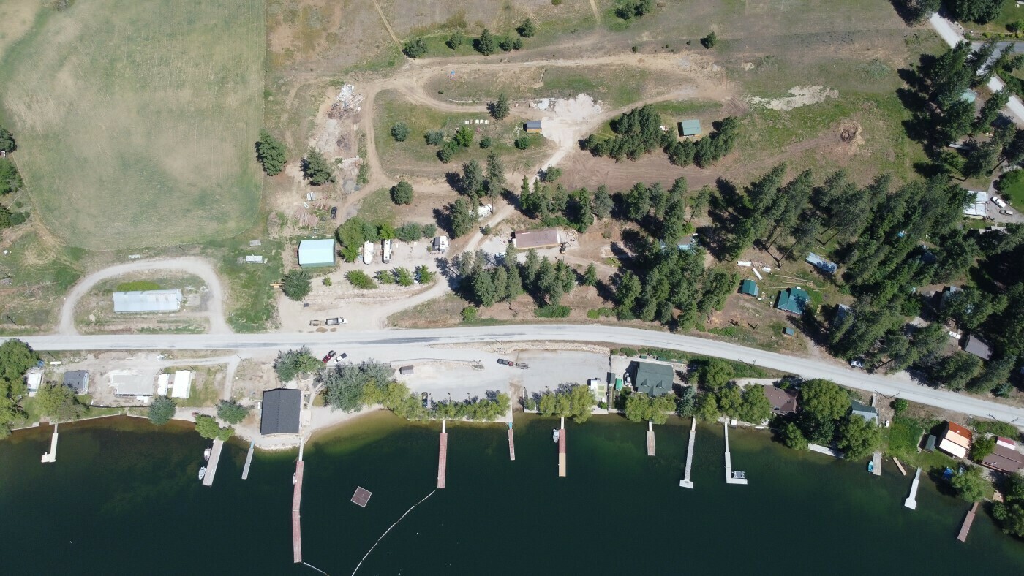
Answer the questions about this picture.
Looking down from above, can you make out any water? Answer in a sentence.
Yes, the picture does contain water.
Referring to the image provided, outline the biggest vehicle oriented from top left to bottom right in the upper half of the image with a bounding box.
[990,195,1008,209]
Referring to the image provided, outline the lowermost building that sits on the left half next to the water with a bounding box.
[260,389,303,436]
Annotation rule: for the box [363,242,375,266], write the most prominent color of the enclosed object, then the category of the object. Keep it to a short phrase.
white vehicle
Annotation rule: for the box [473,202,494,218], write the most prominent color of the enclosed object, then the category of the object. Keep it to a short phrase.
white vehicle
